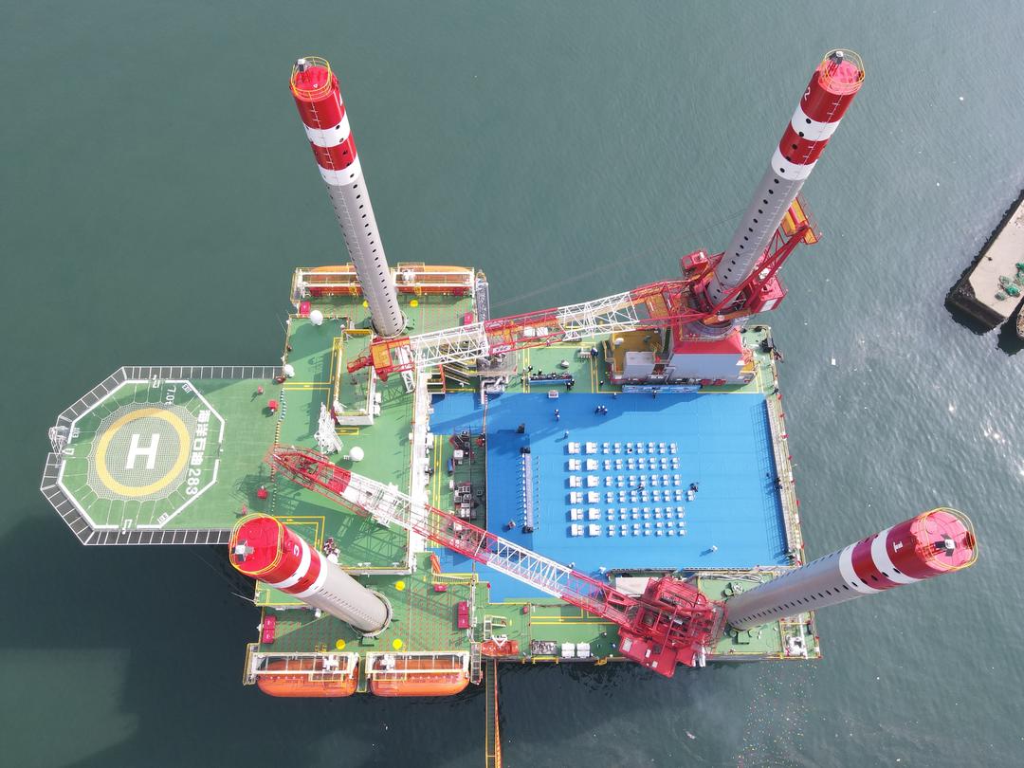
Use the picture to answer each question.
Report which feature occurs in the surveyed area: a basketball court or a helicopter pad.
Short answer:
helicopter pad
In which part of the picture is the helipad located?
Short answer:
left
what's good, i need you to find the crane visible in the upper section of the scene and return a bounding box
[345,187,837,387]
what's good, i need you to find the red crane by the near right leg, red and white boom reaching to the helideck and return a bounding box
[263,439,729,684]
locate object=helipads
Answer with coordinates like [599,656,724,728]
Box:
[40,365,282,546]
